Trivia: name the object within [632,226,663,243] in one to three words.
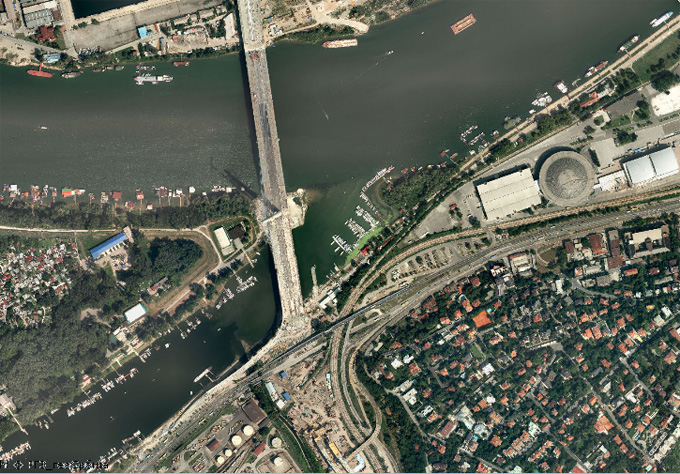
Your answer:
building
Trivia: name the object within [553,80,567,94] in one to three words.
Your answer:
boat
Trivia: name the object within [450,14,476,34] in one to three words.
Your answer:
ship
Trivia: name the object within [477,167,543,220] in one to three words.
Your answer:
building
